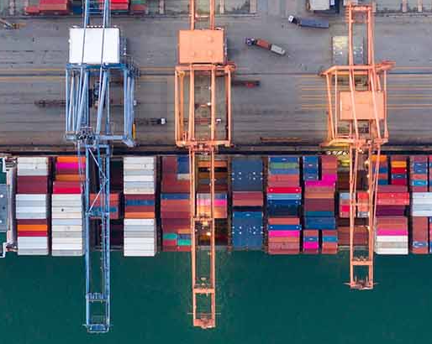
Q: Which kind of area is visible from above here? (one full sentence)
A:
The area seen from above is a port.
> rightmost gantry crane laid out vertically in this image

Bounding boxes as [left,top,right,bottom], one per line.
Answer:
[312,2,399,291]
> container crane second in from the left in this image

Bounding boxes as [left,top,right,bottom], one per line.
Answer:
[172,0,245,331]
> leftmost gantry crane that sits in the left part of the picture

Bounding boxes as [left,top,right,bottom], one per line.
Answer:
[64,0,150,333]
